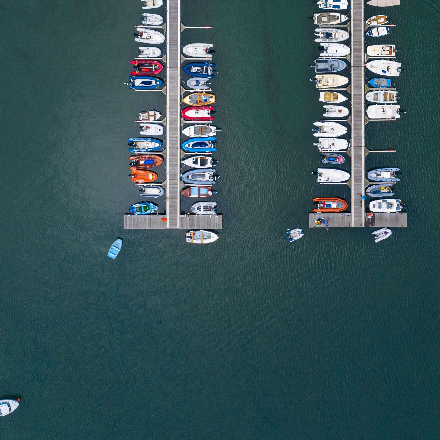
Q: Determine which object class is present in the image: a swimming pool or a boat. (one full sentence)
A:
This aerial view contains a boat.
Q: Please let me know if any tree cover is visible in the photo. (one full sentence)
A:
No, no tree cover is visible.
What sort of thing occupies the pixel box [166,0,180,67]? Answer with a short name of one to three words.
pier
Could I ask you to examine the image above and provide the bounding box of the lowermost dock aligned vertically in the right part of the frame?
[351,147,365,227]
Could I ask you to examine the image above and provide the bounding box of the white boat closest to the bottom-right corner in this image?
[373,228,392,242]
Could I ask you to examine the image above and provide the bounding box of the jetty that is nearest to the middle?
[180,214,223,229]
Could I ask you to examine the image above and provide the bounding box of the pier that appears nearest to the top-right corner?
[350,0,365,66]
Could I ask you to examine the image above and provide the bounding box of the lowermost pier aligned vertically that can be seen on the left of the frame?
[166,148,180,229]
